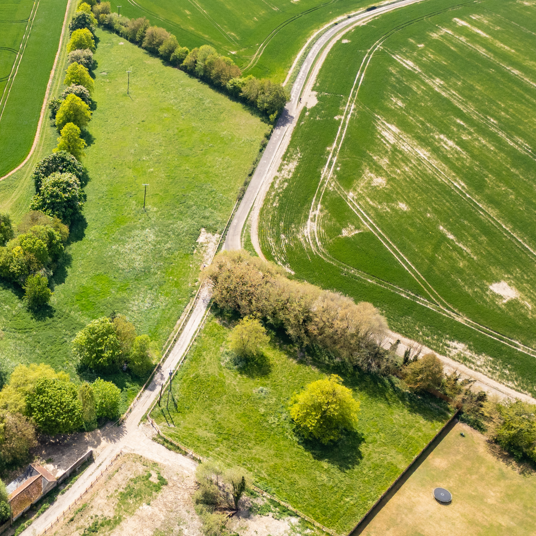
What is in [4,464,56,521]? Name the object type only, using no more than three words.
shed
